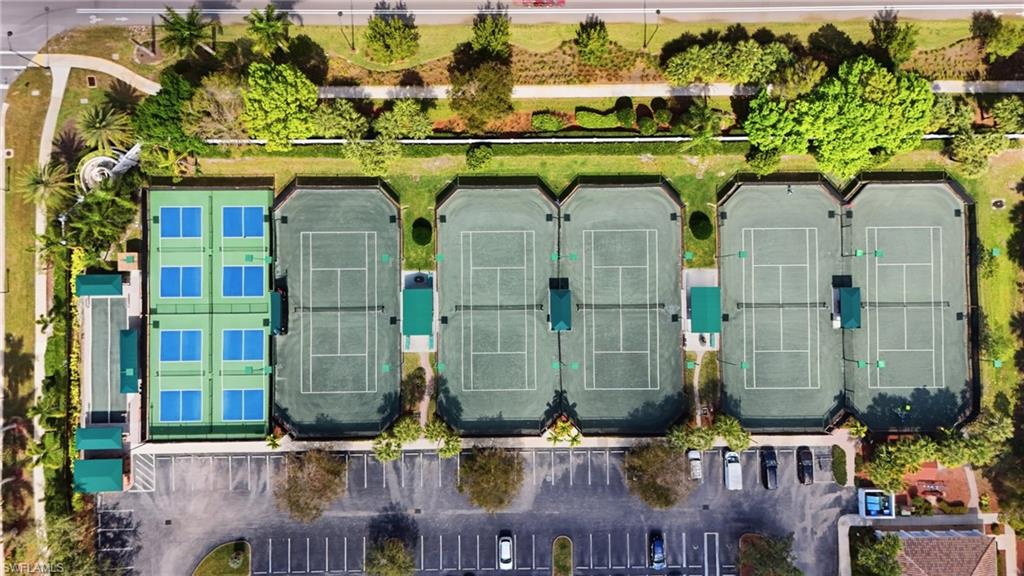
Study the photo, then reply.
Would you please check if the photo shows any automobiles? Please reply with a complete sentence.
Yes, an automobile is visible in the scene.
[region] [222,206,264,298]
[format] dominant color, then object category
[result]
blue sports court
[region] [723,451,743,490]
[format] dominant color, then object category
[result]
white vehicle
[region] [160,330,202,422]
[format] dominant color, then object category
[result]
blue sports court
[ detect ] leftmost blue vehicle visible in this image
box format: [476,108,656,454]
[649,535,666,570]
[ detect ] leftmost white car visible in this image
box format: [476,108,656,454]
[497,537,513,571]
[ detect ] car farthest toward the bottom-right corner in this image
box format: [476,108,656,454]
[796,447,814,483]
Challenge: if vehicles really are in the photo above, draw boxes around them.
[723,451,743,490]
[497,537,513,571]
[796,447,814,483]
[649,535,666,570]
[686,449,702,480]
[760,448,778,487]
